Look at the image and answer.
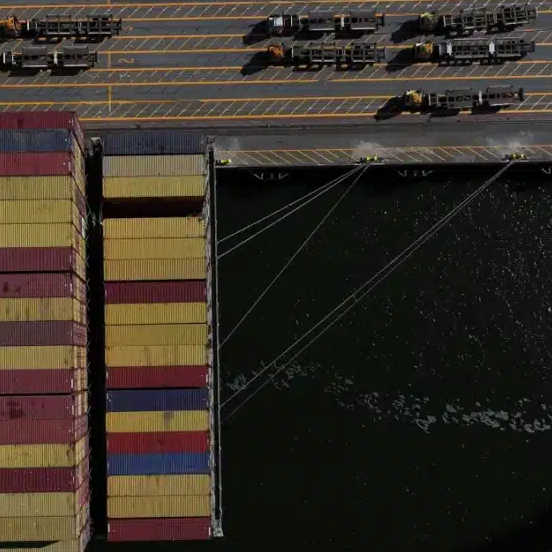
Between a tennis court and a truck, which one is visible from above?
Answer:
truck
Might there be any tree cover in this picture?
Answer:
No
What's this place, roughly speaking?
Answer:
port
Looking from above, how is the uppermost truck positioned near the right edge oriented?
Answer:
from side to side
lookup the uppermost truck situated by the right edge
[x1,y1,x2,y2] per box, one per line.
[416,1,536,33]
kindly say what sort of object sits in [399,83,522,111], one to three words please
truck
